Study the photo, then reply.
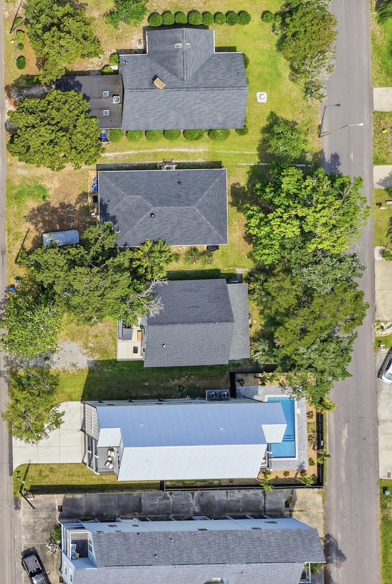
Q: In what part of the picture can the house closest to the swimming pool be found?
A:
bottom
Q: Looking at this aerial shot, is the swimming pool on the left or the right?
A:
right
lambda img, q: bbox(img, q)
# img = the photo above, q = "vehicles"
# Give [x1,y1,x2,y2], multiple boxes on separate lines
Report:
[21,549,49,584]
[377,349,392,384]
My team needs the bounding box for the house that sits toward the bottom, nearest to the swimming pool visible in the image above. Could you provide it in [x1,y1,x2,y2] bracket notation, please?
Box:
[76,401,288,482]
